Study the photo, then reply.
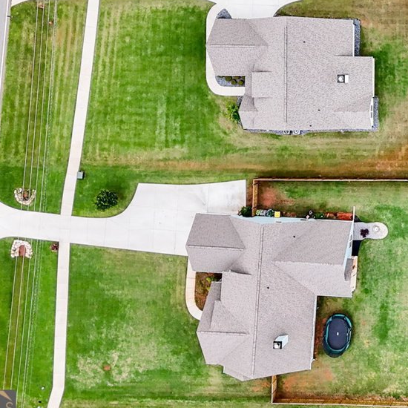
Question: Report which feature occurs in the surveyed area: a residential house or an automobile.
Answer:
residential house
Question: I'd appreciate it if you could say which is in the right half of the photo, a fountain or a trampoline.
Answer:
trampoline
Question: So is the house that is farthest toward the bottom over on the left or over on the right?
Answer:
right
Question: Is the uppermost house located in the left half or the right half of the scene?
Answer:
right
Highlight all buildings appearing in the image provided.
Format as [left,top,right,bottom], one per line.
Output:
[207,17,376,130]
[185,213,367,385]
